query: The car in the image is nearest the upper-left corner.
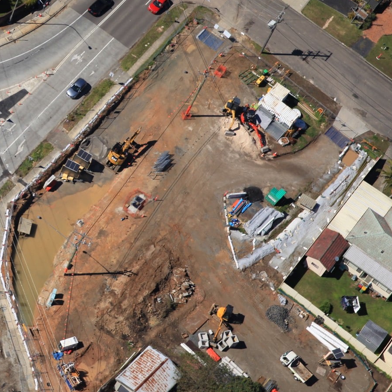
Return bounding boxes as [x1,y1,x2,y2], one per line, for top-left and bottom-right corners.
[88,0,113,16]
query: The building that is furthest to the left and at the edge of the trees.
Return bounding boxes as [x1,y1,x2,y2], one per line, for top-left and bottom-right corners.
[111,347,181,392]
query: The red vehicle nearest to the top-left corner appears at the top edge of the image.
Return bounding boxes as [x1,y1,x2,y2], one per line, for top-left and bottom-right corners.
[145,0,172,16]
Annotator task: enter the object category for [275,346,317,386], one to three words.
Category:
truck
